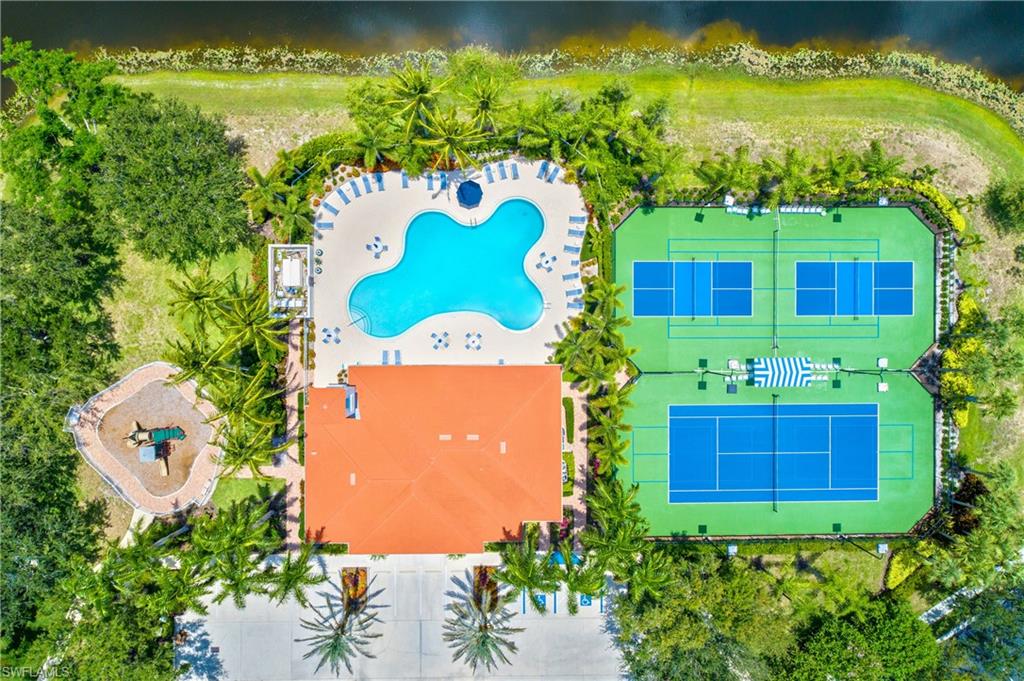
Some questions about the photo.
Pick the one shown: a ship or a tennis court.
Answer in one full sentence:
Of the two, only a tennis court appears.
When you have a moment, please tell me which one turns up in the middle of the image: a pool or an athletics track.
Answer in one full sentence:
It is a pool that can be seen in the middle of the image.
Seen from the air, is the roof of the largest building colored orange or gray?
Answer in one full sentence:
In this view, the roof of the largest building is orange.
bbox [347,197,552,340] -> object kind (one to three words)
swimming pool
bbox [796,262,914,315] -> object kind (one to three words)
sports court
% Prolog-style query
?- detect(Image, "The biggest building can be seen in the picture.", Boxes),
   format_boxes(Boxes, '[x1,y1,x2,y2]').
[306,365,562,554]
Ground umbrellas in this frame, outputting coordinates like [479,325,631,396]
[457,181,483,208]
